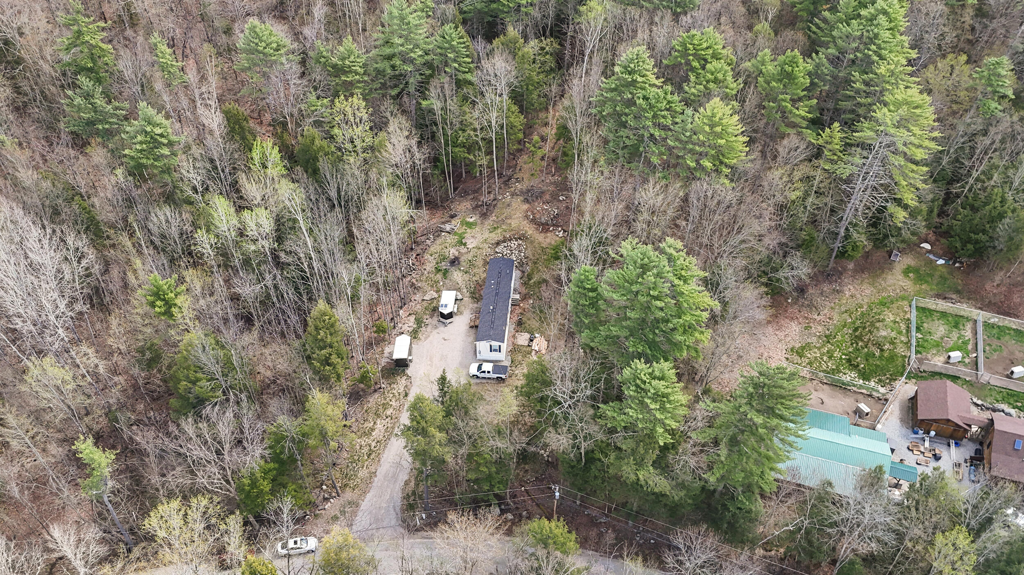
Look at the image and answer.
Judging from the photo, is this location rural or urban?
rural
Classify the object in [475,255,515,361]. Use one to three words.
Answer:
house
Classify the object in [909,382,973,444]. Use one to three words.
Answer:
barn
